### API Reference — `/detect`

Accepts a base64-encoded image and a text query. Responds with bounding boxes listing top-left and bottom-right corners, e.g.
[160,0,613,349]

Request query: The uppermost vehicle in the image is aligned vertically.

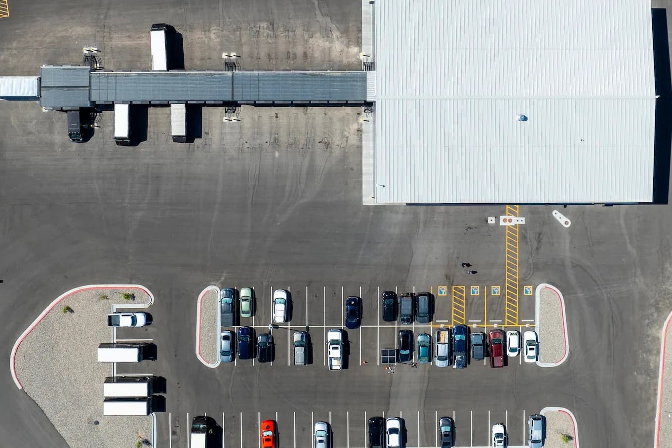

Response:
[150,23,169,68]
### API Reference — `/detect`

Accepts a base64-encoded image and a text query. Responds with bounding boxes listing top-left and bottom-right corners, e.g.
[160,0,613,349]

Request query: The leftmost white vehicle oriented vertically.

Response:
[115,105,133,145]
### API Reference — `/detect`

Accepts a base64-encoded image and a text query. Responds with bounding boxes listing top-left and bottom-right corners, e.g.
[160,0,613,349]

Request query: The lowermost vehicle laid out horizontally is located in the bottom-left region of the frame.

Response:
[103,395,158,417]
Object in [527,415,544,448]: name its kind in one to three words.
car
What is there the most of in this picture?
paved ground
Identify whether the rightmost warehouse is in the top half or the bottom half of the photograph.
top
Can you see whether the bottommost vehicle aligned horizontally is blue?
No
